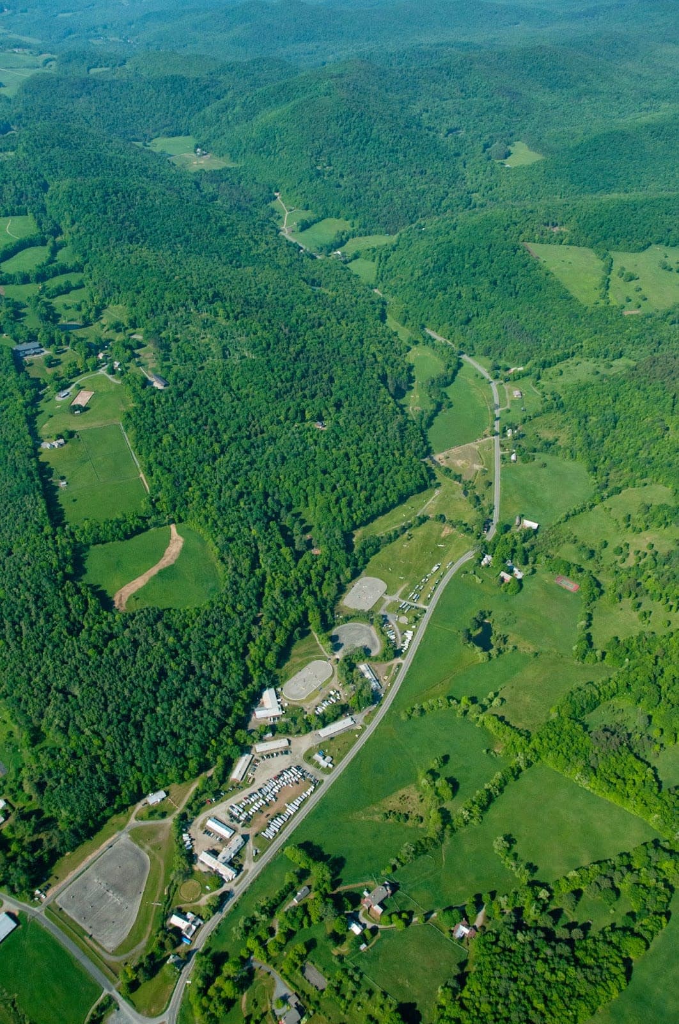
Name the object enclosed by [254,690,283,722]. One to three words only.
building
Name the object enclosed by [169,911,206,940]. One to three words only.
barn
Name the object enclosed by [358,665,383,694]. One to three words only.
barn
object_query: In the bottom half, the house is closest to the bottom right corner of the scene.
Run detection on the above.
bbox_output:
[452,921,478,942]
